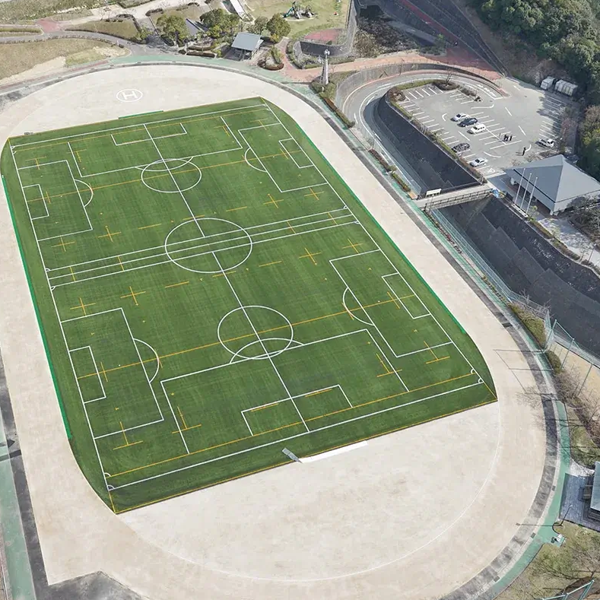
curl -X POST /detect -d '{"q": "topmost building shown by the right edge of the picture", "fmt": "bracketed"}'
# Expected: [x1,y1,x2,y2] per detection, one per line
[502,154,600,224]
